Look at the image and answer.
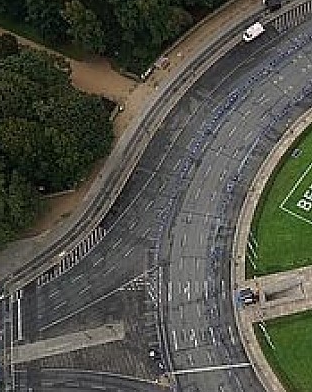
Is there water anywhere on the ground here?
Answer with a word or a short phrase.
No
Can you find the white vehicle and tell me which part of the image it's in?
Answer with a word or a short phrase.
top right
